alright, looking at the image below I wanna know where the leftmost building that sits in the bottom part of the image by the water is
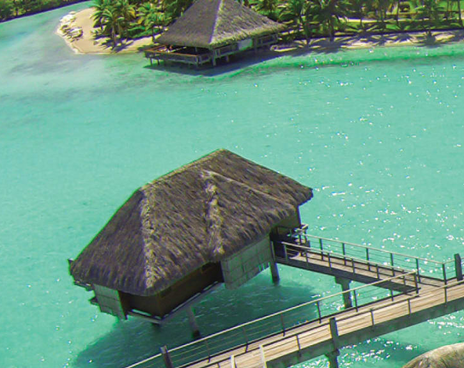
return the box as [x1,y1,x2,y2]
[62,151,317,344]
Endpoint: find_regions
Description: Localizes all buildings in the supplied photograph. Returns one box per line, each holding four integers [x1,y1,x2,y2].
[140,0,290,80]
[62,151,317,344]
